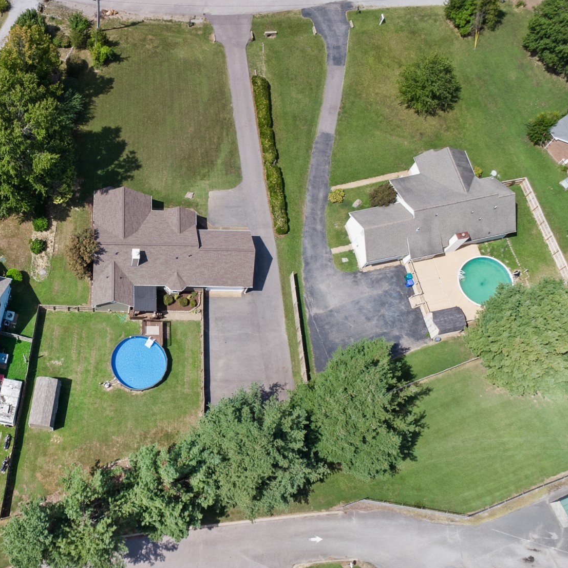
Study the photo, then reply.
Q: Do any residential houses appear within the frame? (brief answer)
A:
Yes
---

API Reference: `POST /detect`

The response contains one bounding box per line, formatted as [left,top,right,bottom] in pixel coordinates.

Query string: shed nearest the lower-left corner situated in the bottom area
[27,377,60,430]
